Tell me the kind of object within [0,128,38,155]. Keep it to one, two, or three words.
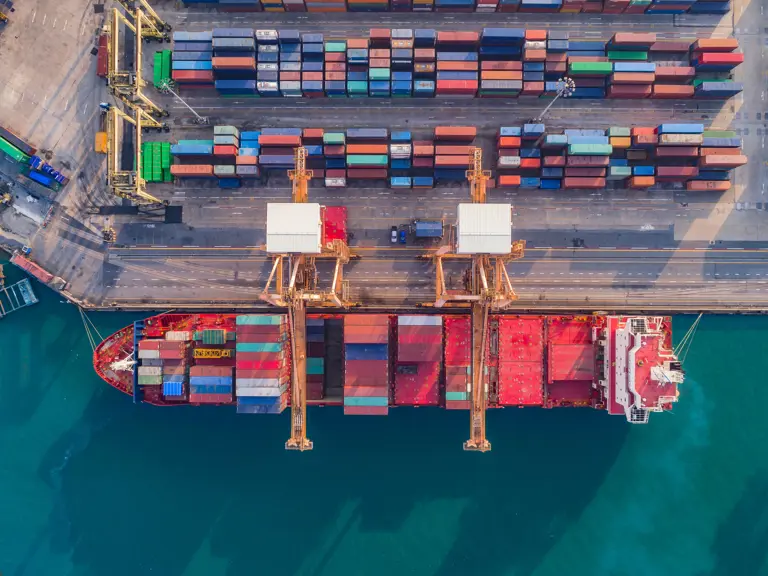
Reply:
shipping container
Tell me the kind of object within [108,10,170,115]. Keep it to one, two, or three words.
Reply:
container crane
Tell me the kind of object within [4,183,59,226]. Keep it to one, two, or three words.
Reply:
shed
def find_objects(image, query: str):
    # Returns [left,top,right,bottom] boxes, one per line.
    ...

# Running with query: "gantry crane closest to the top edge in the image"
[114,0,170,29]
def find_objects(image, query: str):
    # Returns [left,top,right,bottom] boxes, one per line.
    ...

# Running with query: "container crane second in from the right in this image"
[256,147,361,452]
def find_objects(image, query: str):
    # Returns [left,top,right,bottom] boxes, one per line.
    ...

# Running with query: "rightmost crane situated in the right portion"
[416,148,526,453]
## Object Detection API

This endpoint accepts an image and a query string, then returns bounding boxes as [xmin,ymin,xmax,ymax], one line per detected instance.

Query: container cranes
[256,147,361,452]
[108,10,170,115]
[108,110,170,205]
[114,0,170,29]
[416,148,526,453]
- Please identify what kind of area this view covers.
port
